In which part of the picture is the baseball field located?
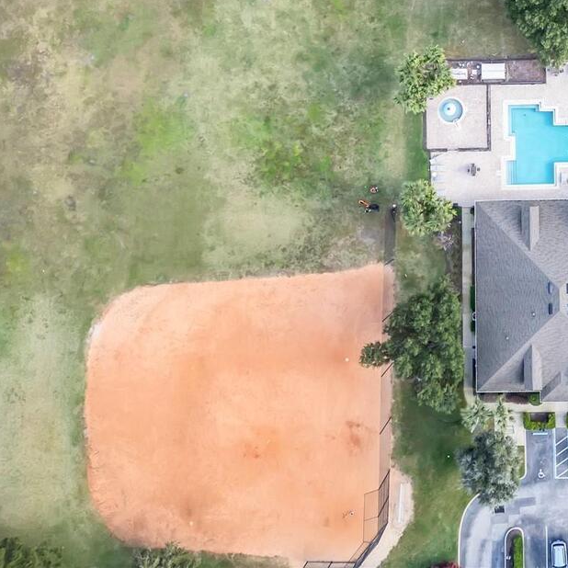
bottom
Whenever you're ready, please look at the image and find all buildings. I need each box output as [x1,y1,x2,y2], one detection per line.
[474,199,568,402]
[481,62,506,79]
